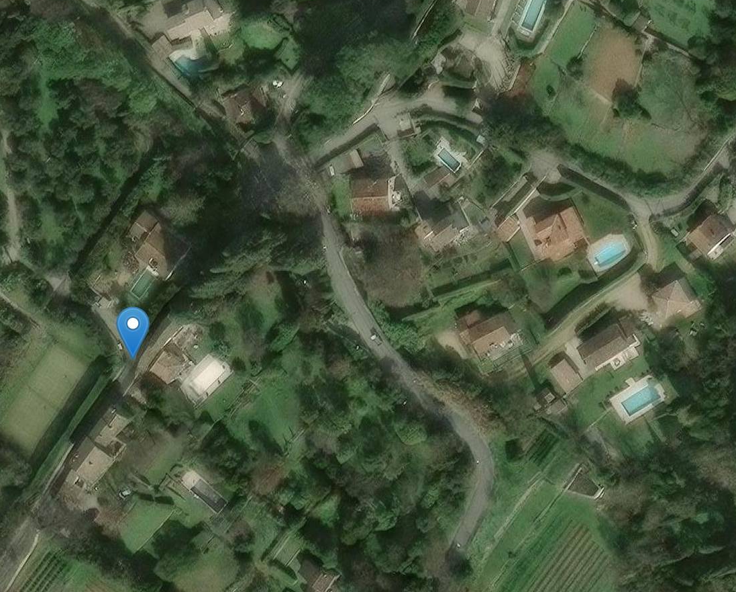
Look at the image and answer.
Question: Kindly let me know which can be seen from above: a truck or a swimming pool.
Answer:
swimming pool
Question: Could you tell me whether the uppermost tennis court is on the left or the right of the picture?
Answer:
left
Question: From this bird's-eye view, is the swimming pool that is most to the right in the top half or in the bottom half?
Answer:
bottom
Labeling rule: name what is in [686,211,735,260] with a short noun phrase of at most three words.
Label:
house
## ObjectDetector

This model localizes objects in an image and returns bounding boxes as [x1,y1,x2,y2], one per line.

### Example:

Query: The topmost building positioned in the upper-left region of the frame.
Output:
[164,0,225,43]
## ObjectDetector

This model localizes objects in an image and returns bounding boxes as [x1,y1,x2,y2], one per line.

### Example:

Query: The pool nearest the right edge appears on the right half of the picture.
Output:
[610,375,666,424]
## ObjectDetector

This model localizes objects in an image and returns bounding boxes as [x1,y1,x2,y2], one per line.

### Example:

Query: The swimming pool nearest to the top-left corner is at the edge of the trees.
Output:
[168,33,218,79]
